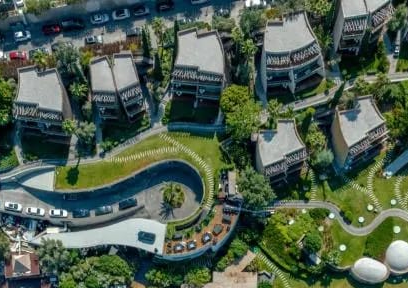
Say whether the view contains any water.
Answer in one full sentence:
No, water can't be seen anywhere here.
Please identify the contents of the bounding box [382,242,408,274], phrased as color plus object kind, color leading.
white tent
